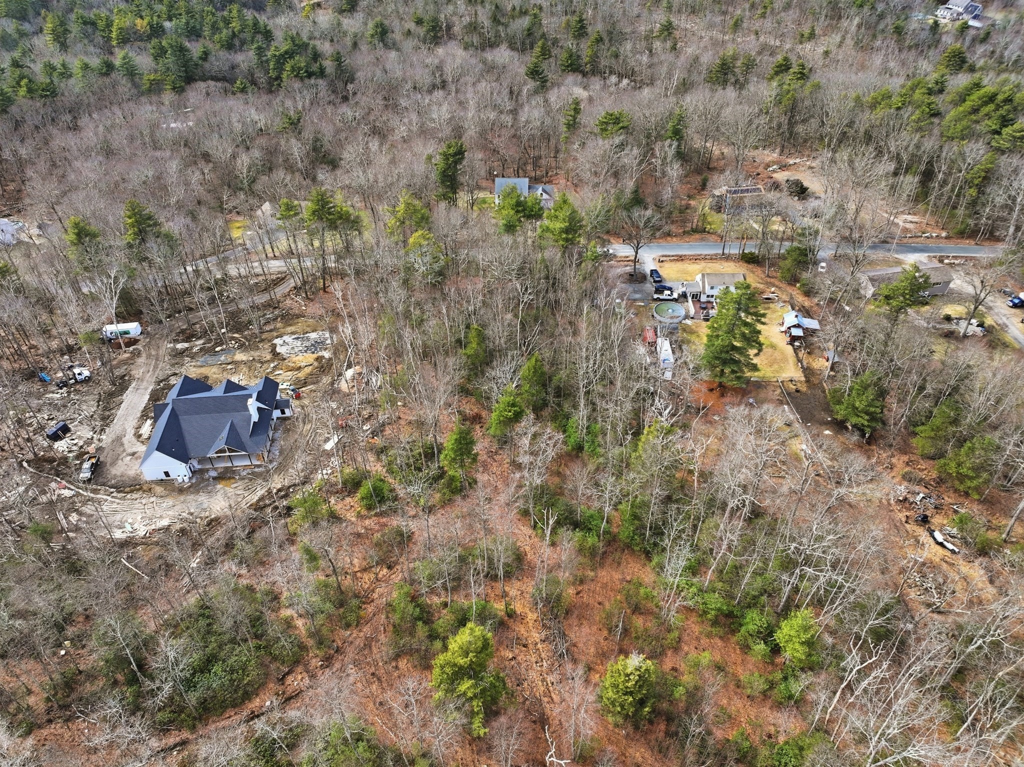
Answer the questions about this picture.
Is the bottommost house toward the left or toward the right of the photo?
left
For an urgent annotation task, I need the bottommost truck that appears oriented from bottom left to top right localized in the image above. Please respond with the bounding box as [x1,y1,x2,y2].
[74,450,103,477]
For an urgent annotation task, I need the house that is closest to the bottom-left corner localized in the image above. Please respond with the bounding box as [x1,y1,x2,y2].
[139,372,294,478]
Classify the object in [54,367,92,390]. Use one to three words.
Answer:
truck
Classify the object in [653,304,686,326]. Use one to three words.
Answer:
swimming pool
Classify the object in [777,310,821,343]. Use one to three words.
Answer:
shed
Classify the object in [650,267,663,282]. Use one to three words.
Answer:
vehicle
